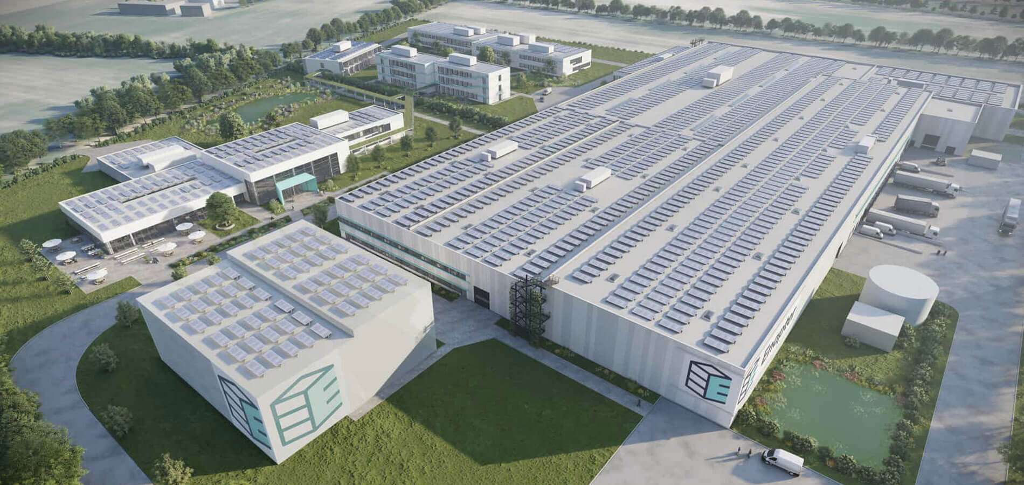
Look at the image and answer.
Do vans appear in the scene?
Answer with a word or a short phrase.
Yes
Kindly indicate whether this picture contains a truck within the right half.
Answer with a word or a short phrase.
Yes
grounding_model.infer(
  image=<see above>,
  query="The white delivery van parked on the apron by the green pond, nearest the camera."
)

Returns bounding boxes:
[763,448,806,479]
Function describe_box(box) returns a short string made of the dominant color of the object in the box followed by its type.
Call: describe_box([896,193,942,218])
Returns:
gray truck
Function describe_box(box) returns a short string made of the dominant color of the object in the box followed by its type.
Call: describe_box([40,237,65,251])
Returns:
white umbrella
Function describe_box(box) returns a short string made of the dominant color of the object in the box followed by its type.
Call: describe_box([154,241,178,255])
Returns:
white umbrella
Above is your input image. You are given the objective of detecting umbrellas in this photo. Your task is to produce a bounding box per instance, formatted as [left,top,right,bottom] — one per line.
[173,221,195,234]
[40,237,65,251]
[54,250,80,264]
[154,241,178,255]
[185,230,208,243]
[84,267,109,282]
